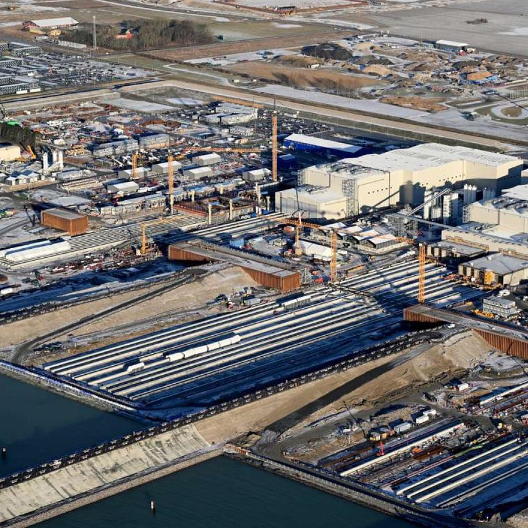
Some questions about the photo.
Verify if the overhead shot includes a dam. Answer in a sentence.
Yes, there's a dam here.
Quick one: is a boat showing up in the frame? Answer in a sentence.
No, I find no boat anywhere in the image.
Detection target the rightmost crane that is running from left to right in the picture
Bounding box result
[295,222,416,279]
